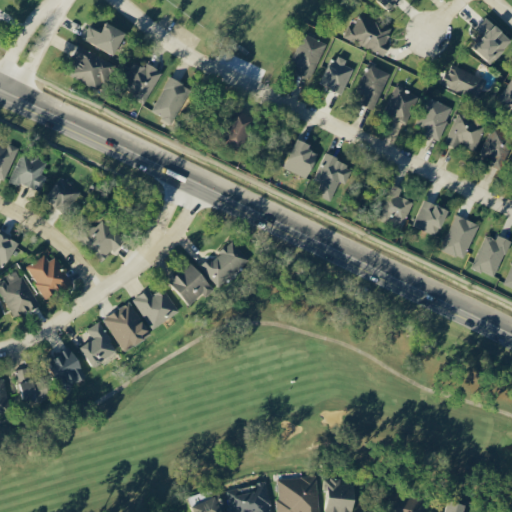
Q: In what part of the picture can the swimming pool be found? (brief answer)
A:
top right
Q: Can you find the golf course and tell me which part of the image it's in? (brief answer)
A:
bottom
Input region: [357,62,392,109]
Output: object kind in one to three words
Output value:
house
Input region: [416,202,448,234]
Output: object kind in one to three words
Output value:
house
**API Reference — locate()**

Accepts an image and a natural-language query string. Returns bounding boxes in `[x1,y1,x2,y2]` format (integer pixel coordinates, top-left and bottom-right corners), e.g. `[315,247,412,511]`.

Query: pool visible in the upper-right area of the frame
[474,66,494,90]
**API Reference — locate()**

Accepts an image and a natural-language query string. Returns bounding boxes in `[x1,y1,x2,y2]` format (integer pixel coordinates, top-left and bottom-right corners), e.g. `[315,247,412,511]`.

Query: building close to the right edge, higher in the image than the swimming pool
[470,17,512,64]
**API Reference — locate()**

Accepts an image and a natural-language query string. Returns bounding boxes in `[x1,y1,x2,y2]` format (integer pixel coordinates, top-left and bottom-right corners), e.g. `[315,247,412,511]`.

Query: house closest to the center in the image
[206,243,250,288]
